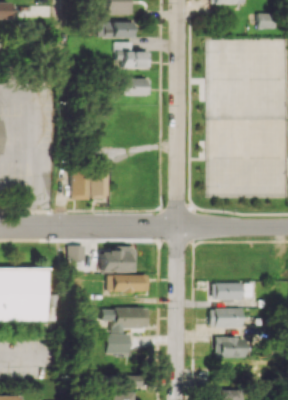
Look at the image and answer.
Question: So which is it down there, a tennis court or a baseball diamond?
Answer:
tennis court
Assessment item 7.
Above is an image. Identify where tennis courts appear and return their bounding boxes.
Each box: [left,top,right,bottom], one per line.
[205,118,244,196]
[244,40,284,118]
[244,118,284,196]
[205,40,244,118]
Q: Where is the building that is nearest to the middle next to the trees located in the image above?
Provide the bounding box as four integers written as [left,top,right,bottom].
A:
[90,172,108,200]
